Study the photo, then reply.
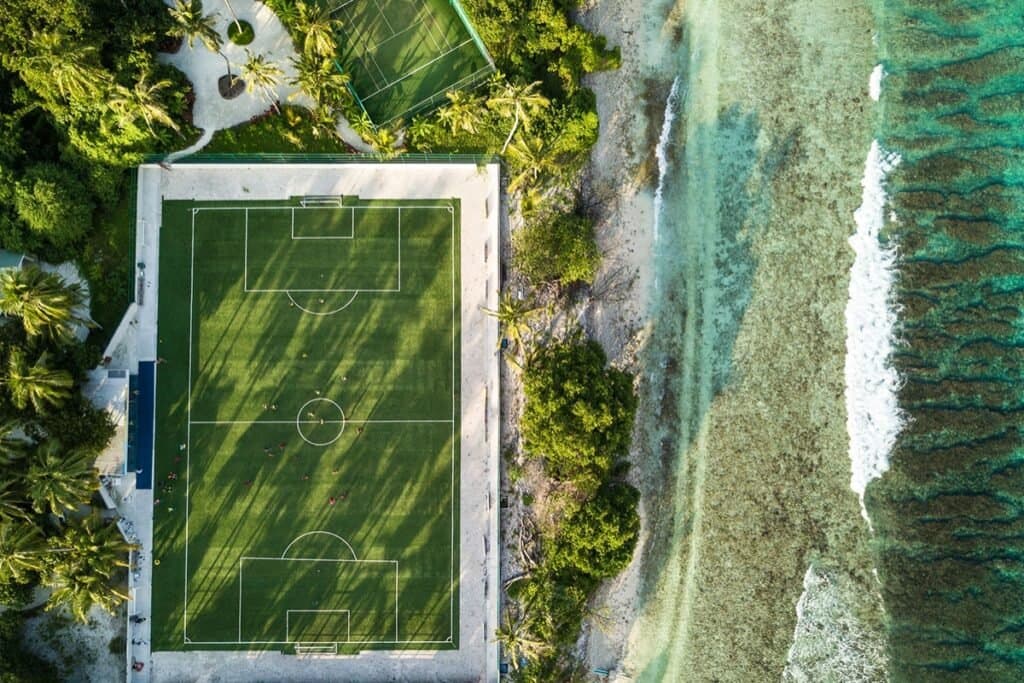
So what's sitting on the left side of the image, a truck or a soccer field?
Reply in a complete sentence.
The one visible on the left side of the image is a soccer field.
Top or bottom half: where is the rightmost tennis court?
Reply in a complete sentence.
It is in the top half that the rightmost tennis court appears.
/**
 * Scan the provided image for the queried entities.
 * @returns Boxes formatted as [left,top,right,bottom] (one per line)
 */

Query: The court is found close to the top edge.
[307,0,492,132]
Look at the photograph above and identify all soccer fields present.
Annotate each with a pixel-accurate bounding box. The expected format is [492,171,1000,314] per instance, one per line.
[152,195,461,655]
